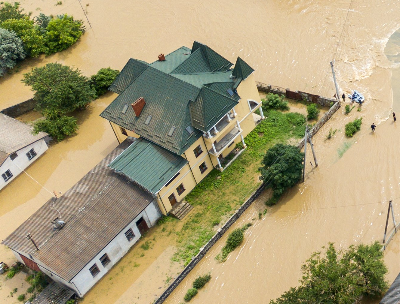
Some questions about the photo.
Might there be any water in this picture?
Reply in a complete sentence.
Yes, there is water in the image.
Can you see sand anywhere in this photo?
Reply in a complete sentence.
No, there is no sand in the image.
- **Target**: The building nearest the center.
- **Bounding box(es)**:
[97,42,273,218]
